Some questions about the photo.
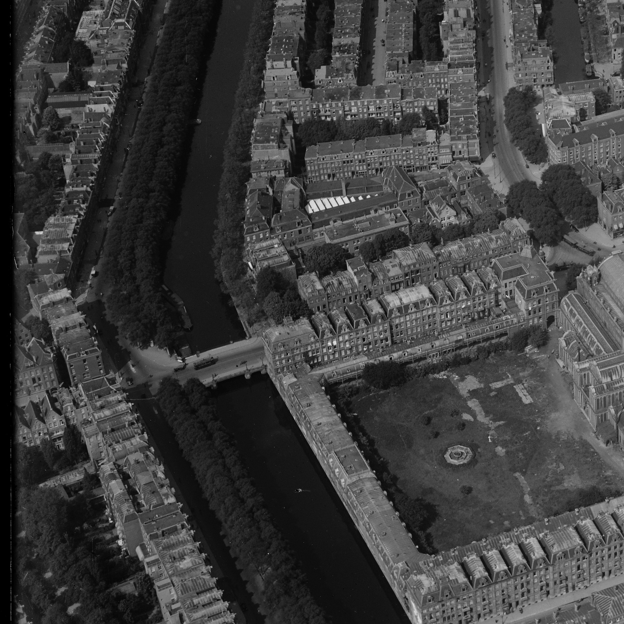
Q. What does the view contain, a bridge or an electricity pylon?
bridge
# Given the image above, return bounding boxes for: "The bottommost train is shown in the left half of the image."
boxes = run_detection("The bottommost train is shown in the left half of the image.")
[192,356,214,369]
